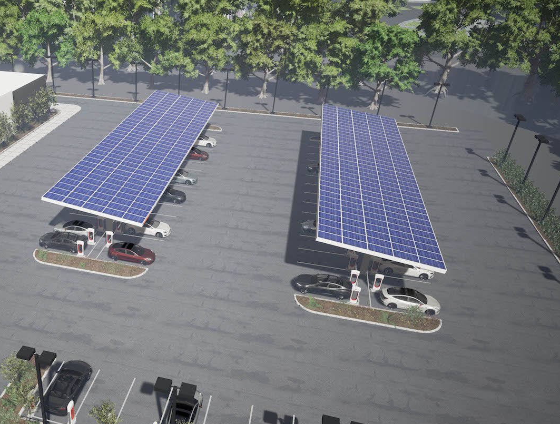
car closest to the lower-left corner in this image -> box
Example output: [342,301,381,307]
[43,359,90,414]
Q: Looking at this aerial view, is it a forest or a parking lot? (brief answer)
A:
parking lot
